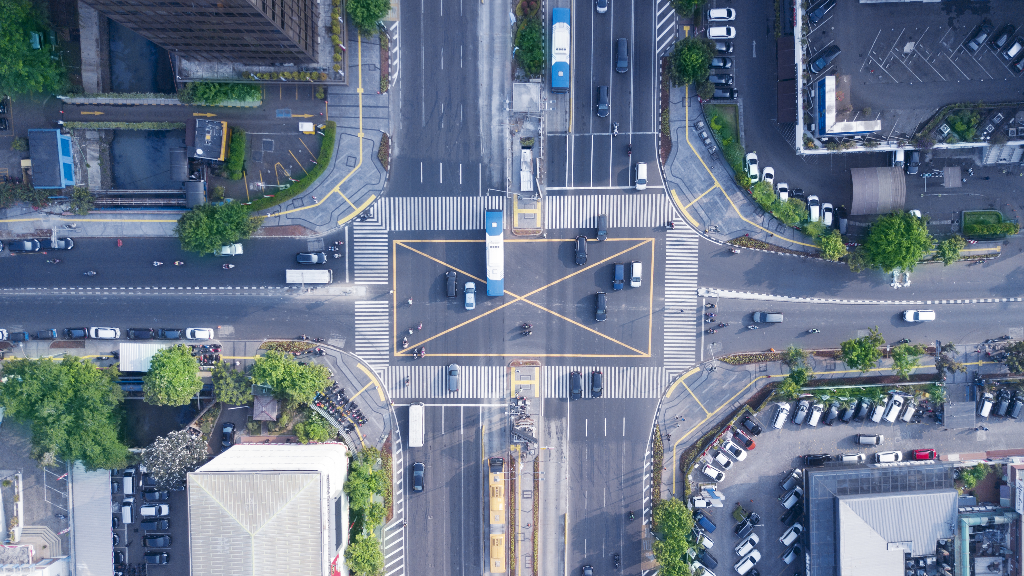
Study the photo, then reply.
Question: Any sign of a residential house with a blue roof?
Yes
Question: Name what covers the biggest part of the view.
paved ground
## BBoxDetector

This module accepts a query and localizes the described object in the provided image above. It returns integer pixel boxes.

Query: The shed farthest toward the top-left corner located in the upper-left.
[50,0,82,31]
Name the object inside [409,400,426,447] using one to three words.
vehicle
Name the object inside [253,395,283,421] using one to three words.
gazebo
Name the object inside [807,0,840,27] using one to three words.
car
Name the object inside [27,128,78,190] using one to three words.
house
